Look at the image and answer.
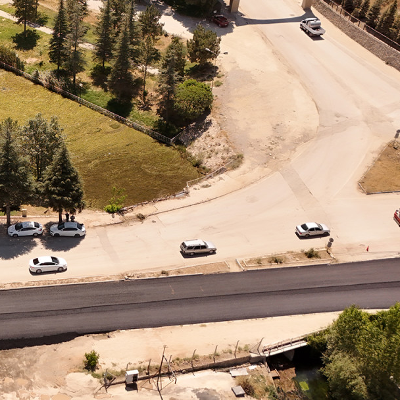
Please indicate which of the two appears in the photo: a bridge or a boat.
bridge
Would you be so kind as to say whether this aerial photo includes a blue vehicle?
No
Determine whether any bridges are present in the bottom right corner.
Yes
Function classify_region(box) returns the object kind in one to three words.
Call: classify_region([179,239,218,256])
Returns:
car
